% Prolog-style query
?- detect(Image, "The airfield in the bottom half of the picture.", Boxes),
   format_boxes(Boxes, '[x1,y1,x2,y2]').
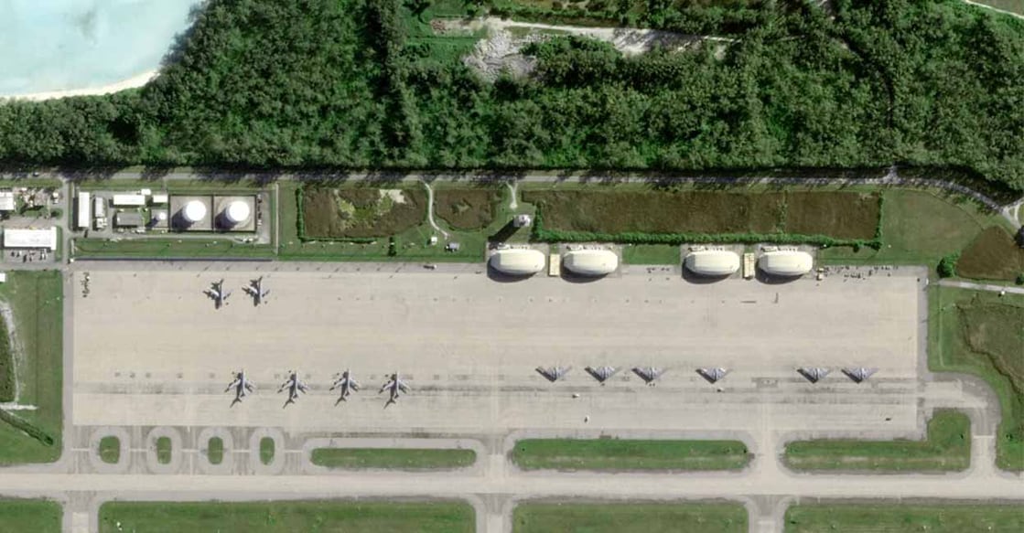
[0,243,1024,533]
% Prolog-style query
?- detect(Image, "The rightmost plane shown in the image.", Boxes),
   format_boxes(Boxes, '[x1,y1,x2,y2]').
[844,367,876,381]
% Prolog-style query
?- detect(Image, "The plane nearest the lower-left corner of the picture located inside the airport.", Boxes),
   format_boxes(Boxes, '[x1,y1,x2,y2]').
[230,370,257,398]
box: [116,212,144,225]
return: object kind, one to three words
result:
building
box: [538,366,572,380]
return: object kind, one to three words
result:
airplane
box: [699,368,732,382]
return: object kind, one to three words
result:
airplane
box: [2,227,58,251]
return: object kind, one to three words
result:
building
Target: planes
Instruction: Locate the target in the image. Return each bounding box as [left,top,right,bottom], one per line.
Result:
[587,367,620,381]
[335,369,362,398]
[247,275,274,304]
[634,367,667,381]
[230,370,257,398]
[538,366,572,380]
[283,371,310,399]
[844,367,876,381]
[699,368,732,382]
[384,372,410,400]
[799,367,832,382]
[209,278,235,307]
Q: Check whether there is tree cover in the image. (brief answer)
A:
Yes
